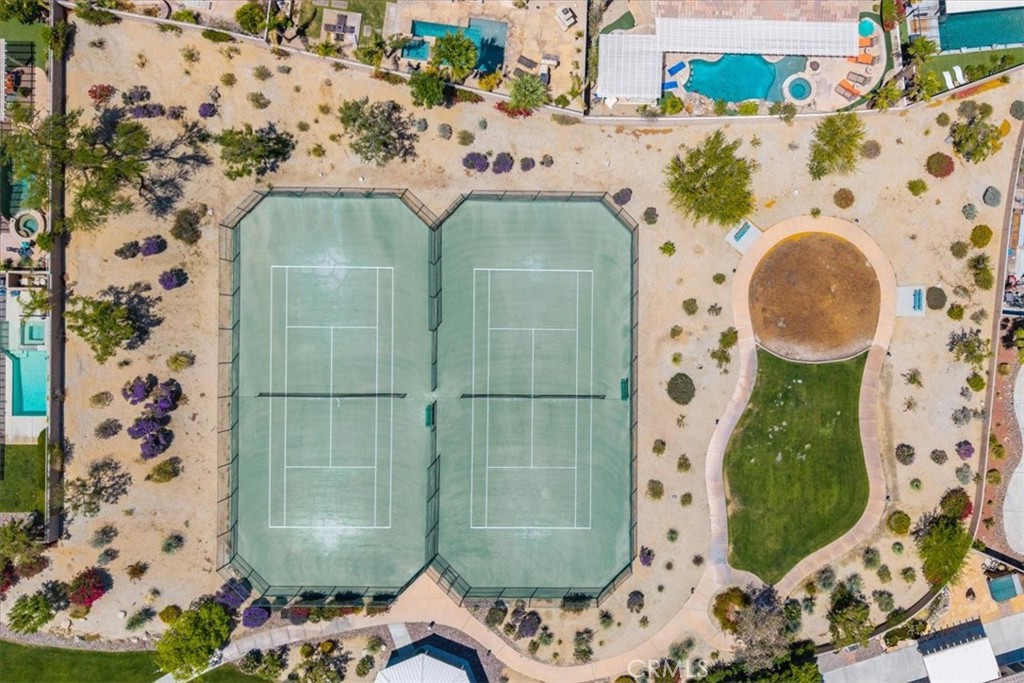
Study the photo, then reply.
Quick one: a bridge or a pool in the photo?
pool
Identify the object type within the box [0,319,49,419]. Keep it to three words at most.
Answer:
swimming pool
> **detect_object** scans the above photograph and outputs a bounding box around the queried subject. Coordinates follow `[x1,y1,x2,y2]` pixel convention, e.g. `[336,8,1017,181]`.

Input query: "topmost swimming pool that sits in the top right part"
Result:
[937,7,1024,53]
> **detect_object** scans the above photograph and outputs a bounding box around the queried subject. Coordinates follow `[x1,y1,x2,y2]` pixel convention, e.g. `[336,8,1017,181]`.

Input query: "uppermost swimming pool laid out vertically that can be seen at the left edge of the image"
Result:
[0,147,32,224]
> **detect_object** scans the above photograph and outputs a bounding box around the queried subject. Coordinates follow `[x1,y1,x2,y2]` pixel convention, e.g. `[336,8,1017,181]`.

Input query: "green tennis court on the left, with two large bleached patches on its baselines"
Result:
[230,191,434,595]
